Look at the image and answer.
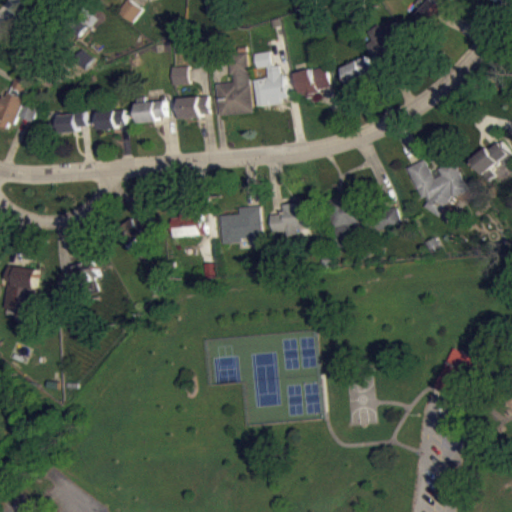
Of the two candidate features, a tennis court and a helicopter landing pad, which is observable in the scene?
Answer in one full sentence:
I can see a tennis court in this picture.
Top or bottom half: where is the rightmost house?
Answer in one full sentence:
The top half of the photo is where the rightmost house is.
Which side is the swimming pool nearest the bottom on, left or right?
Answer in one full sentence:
The swimming pool nearest the bottom is on the left side of the image.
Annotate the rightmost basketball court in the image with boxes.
[349,374,378,428]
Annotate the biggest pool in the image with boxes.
[12,342,34,364]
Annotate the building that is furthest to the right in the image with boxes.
[466,140,510,178]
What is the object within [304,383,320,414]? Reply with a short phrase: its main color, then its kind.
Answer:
blue sports court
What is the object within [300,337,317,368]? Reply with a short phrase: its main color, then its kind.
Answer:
blue sports court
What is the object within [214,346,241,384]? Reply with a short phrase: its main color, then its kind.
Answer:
blue tennis court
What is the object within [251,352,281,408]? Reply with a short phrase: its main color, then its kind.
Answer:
blue tennis court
